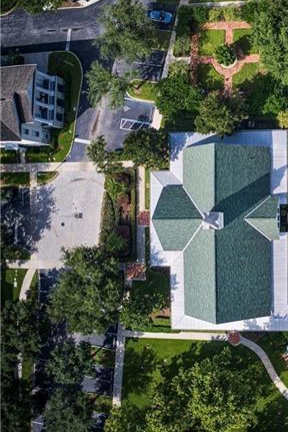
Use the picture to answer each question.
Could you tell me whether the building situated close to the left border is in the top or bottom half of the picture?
top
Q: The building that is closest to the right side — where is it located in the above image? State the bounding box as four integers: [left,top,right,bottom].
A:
[150,130,288,330]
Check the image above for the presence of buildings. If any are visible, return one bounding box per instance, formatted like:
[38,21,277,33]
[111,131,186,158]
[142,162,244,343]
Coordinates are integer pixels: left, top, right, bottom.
[150,130,288,330]
[0,63,67,152]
